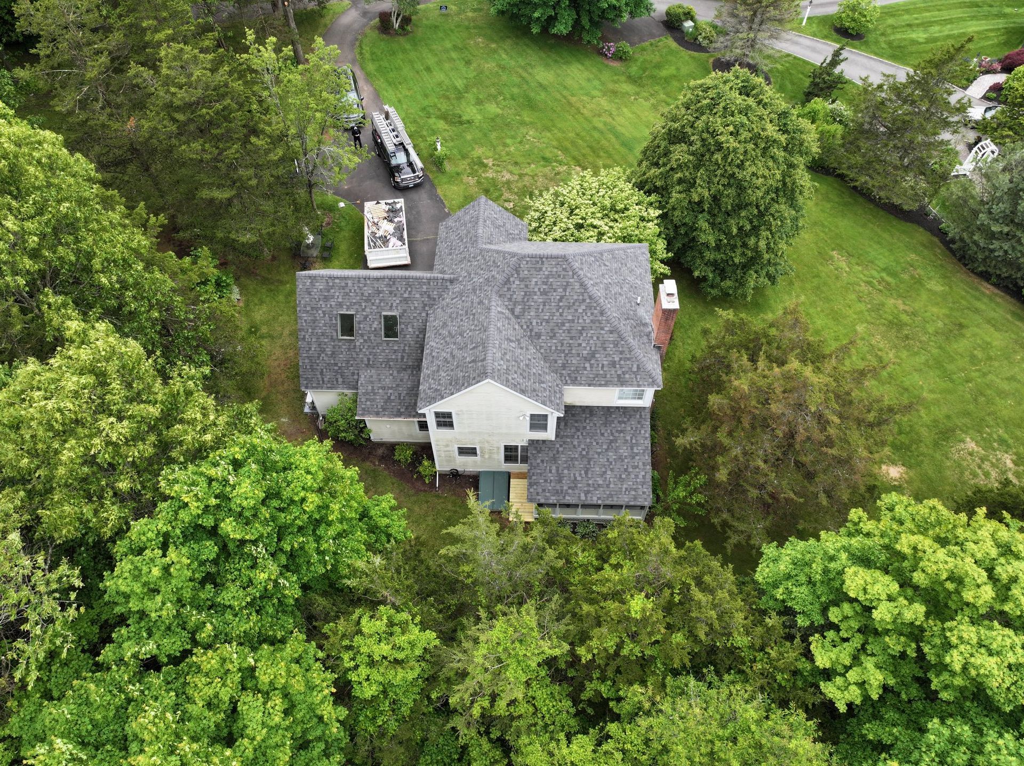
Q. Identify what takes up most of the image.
trees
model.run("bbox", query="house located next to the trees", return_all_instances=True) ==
[295,189,680,528]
